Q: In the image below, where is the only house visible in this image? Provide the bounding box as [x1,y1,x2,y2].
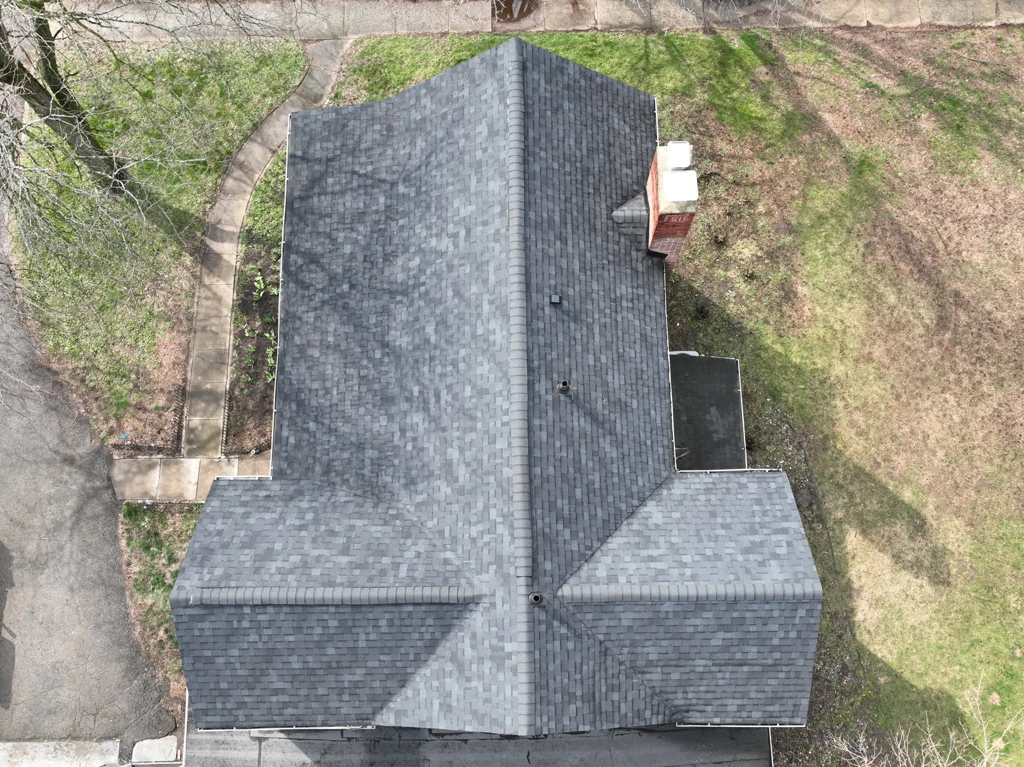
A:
[169,38,825,767]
